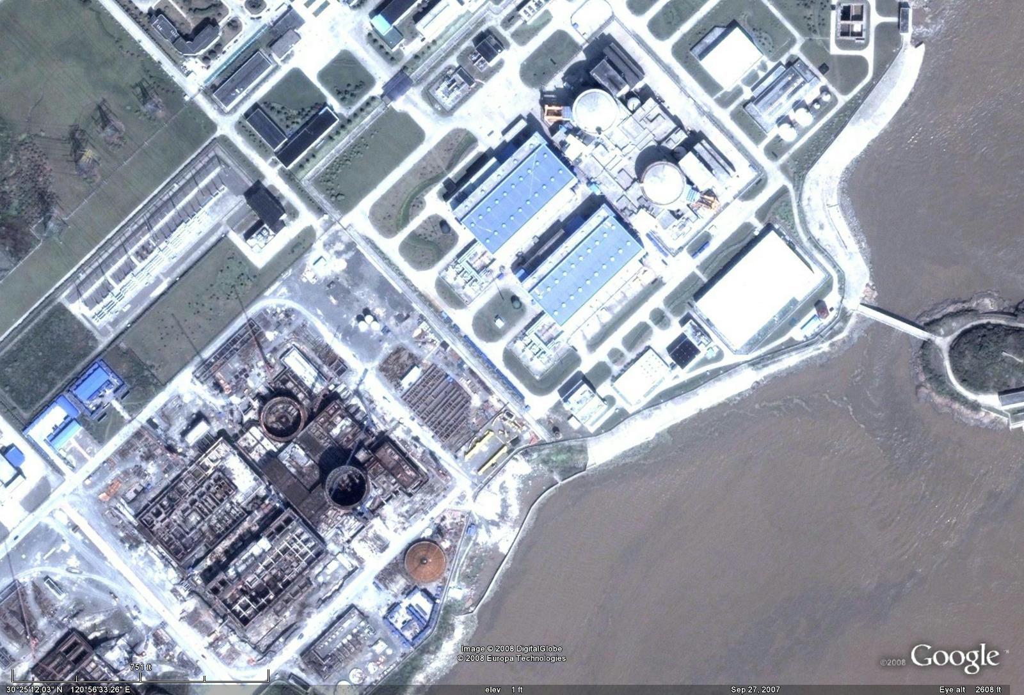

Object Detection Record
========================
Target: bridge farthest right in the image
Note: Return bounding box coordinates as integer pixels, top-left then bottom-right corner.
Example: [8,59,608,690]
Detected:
[856,302,935,342]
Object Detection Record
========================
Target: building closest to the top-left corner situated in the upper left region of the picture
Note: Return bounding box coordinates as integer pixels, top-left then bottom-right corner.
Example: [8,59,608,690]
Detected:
[152,15,180,45]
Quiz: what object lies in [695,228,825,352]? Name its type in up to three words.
warehouse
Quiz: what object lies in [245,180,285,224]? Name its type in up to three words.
house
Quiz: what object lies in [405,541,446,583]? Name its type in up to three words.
storage tank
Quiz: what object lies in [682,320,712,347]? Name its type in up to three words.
building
